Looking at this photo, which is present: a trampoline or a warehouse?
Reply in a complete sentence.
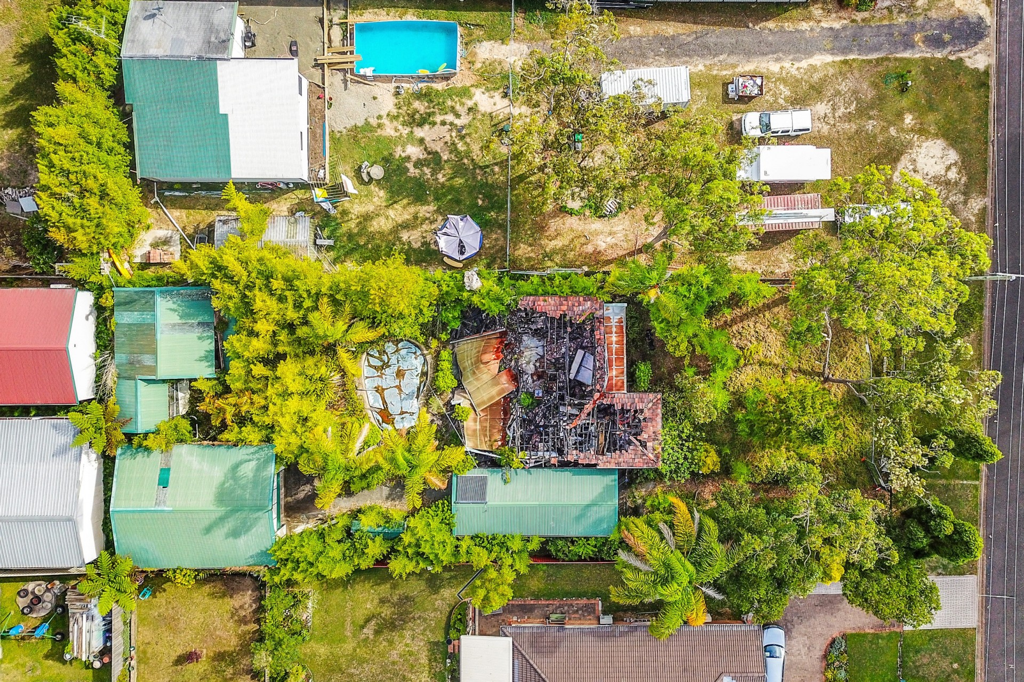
This aerial view contains a trampoline.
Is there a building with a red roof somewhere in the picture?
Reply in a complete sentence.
Yes, looking at the shot, I can spot a building with a red roof.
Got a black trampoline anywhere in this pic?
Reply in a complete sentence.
No, the scene contains no black trampoline.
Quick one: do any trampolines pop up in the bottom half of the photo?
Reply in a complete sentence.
No, there's no trampoline to be seen in the bottom half of the photo.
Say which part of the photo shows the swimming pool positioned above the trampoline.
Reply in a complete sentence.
Look in the top portion of the view to spot the swimming pool positioned above the trampoline.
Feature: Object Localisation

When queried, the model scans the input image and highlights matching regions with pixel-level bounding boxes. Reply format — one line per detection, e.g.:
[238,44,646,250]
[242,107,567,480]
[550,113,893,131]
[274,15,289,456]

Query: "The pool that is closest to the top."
[354,19,465,86]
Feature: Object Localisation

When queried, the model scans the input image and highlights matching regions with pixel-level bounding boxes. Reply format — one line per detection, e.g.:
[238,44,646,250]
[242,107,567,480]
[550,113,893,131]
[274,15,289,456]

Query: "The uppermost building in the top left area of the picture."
[118,0,312,182]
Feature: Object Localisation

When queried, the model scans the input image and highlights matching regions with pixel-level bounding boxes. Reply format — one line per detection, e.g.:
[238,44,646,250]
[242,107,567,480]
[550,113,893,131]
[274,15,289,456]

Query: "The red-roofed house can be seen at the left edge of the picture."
[0,286,94,405]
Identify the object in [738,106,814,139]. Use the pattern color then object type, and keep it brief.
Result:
white truck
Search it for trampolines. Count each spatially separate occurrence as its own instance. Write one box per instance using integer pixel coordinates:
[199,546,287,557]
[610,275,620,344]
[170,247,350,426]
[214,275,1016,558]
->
[434,213,484,262]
